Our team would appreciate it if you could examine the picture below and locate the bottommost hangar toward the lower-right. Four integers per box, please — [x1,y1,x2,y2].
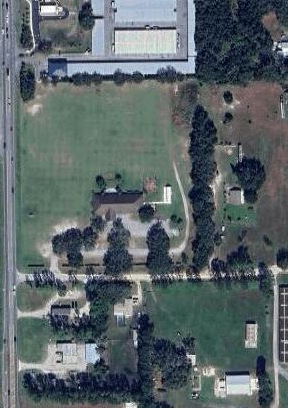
[226,375,251,395]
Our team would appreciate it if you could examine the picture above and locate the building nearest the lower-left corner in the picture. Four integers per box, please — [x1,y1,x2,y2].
[58,344,77,364]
